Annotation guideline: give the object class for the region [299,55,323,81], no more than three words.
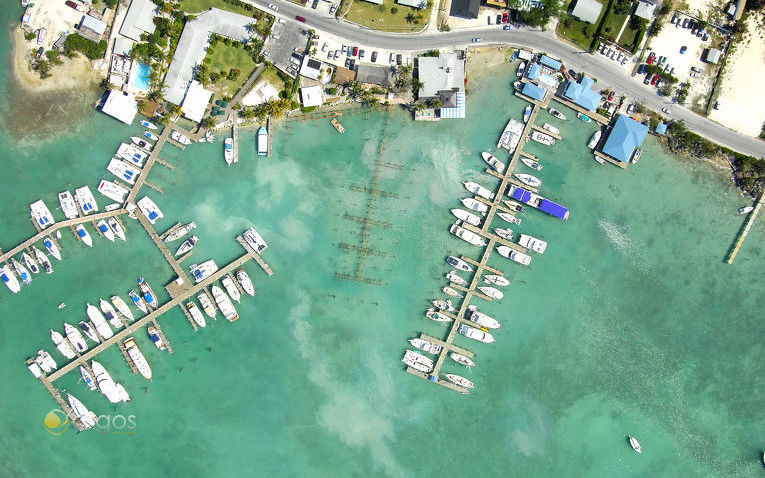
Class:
house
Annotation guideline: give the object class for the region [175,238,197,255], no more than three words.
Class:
boat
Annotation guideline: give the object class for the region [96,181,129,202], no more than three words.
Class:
boat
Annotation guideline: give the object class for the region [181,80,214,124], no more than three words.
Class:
building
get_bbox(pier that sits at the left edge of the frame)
[0,120,273,431]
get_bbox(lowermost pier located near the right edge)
[725,188,765,263]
